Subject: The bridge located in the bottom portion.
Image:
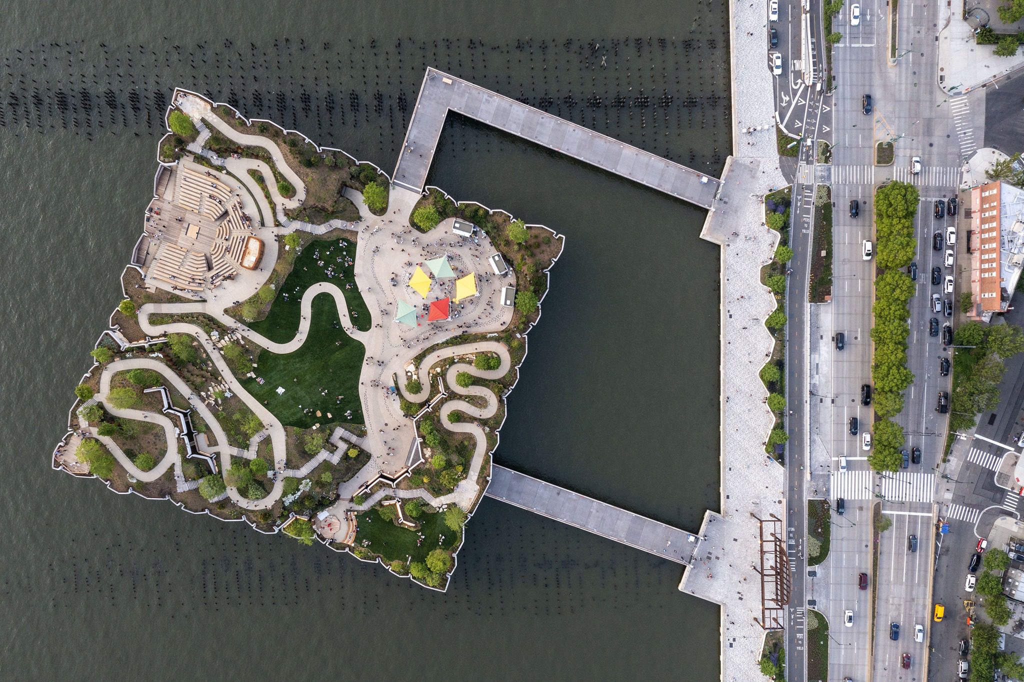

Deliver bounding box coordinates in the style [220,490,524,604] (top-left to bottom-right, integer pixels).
[484,463,702,567]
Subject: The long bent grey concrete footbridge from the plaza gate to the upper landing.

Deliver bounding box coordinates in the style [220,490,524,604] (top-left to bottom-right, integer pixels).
[391,67,722,210]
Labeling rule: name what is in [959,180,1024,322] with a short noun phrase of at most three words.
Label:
building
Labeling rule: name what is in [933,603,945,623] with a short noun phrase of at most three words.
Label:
vehicle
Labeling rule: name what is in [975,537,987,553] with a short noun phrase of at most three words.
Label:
vehicle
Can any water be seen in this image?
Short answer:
Yes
